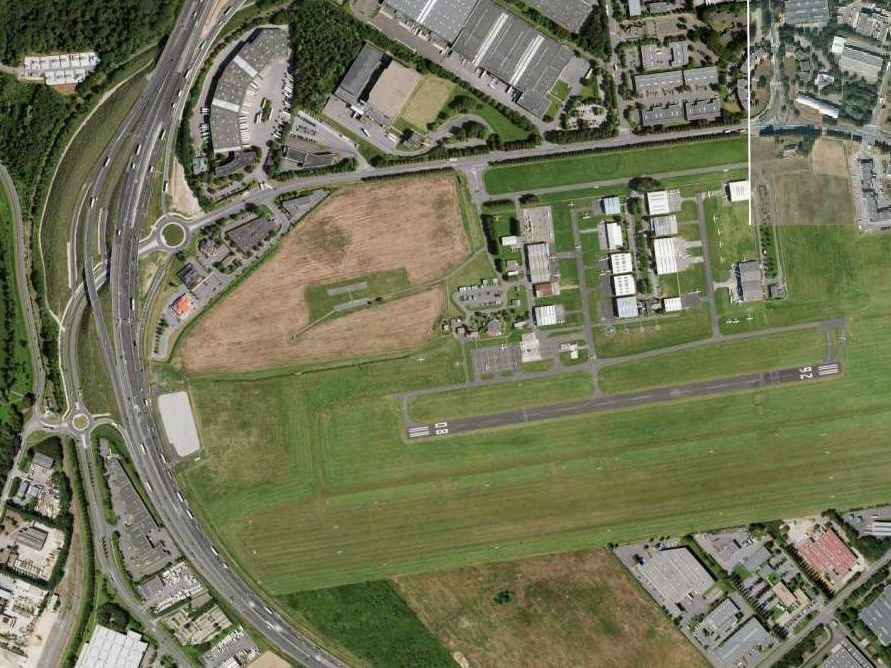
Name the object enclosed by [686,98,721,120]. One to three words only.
building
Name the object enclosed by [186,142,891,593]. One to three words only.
airport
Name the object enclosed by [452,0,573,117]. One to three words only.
warehouse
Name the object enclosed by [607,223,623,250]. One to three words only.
hangar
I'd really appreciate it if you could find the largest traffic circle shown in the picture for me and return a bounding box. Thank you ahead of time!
[153,215,192,254]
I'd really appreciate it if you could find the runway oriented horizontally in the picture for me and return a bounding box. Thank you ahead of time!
[406,362,840,439]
